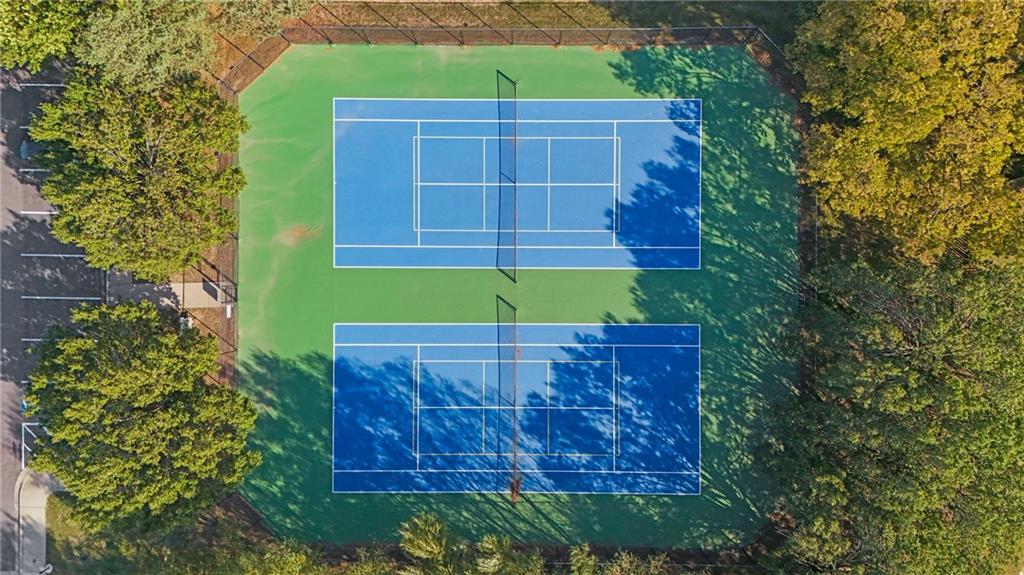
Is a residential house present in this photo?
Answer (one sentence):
No, I can see no residential house in this picture.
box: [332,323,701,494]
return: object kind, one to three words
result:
tennis court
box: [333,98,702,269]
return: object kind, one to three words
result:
tennis court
